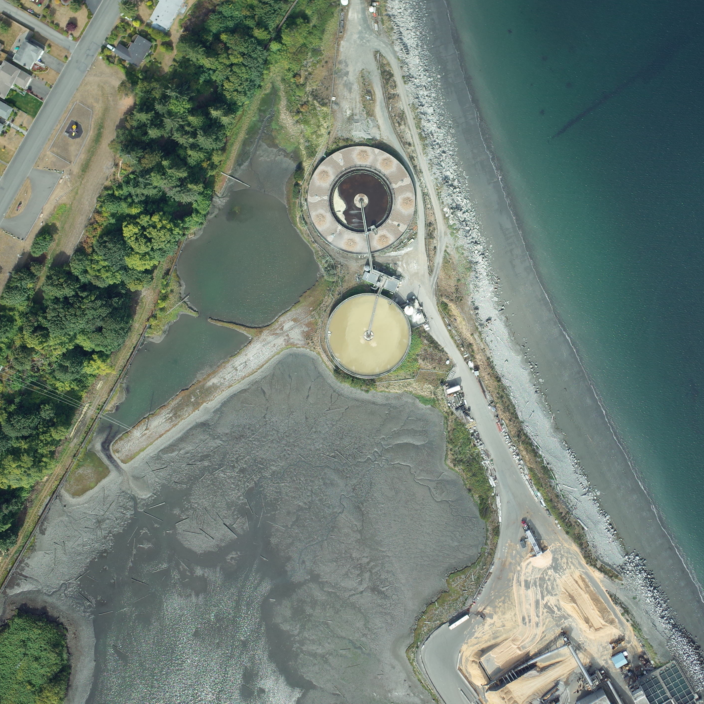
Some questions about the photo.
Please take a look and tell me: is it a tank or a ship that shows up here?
tank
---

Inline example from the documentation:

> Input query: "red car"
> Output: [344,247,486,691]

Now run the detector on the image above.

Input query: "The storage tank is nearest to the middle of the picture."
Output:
[326,287,411,378]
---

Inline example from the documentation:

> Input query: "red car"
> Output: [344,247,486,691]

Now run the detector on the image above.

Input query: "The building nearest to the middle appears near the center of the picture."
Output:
[356,269,400,293]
